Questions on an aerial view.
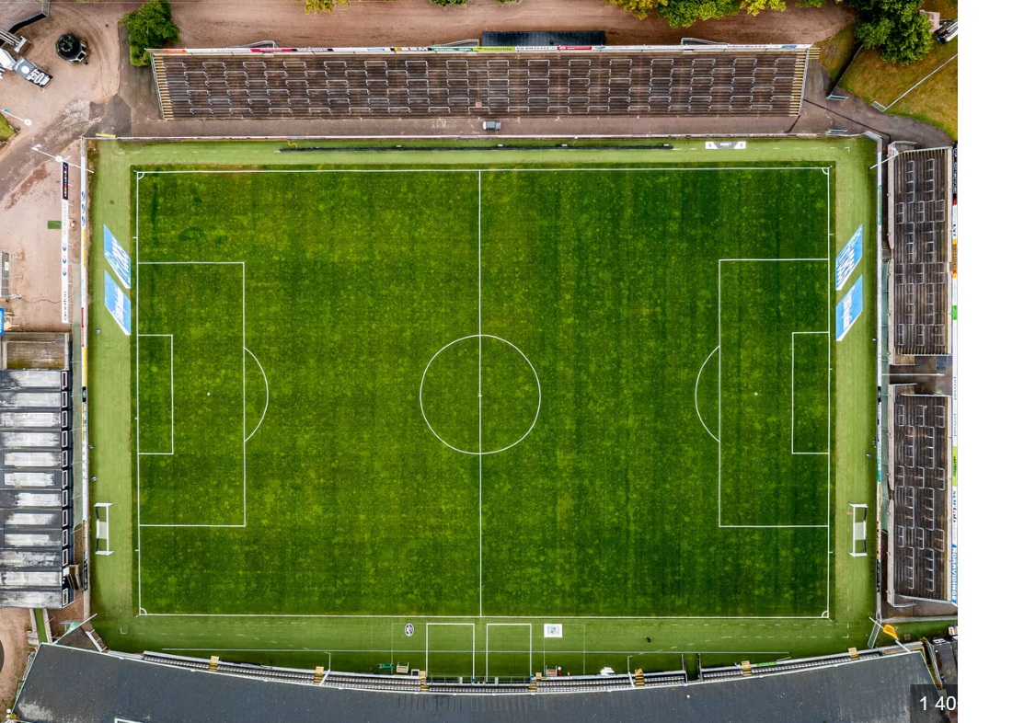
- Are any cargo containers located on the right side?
No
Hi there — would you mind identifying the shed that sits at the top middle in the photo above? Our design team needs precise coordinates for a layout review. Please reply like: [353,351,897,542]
[483,31,605,51]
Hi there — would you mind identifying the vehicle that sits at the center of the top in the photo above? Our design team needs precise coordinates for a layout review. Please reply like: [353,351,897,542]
[483,118,501,130]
